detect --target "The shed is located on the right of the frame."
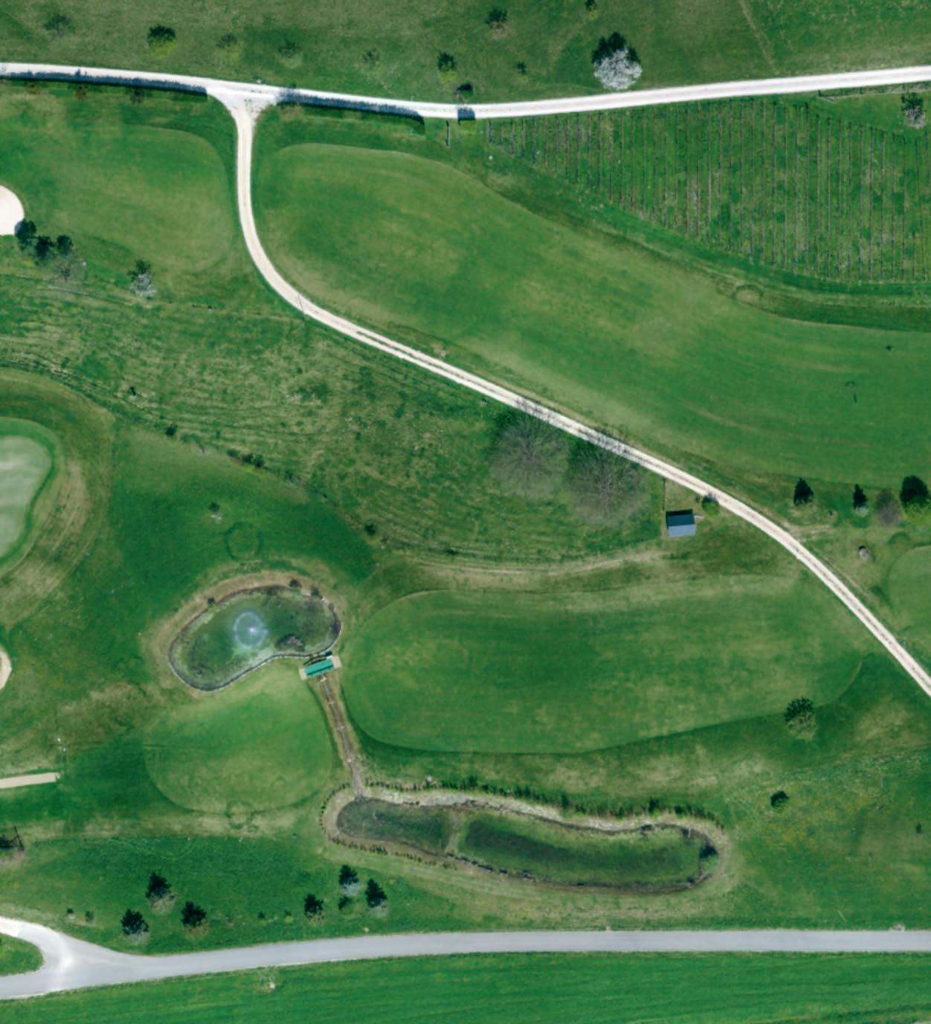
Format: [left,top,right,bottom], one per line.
[668,515,696,537]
